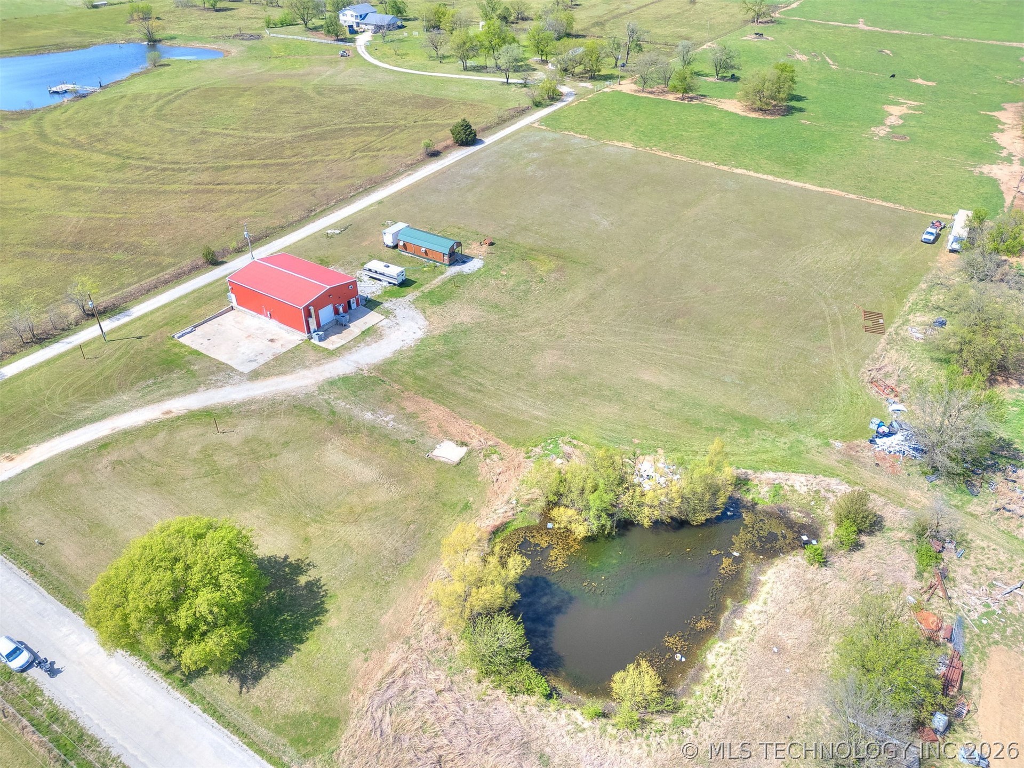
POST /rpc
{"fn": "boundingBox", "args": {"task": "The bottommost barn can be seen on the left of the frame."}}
[220,253,364,337]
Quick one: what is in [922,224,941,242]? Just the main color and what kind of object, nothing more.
white vehicle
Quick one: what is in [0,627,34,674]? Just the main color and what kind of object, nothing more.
white car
